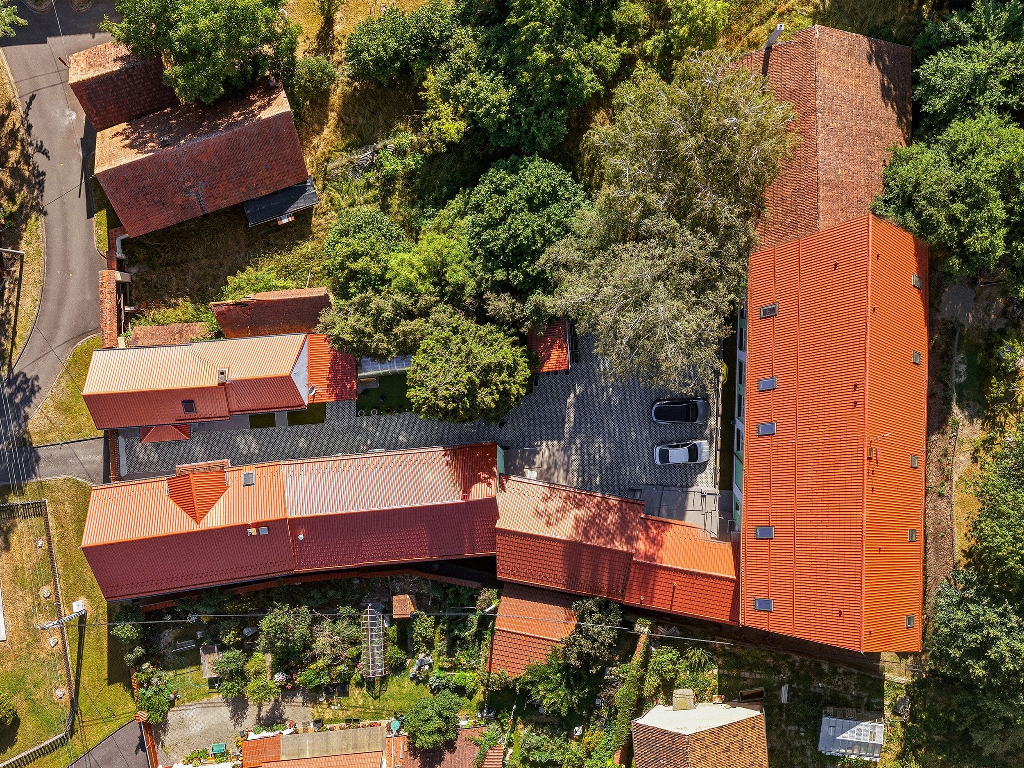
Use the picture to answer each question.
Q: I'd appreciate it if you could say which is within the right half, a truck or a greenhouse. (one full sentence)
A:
The feature located within the right half is a greenhouse.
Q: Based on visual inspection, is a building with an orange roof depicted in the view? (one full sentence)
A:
Yes, a building with an orange roof is visible in the scene.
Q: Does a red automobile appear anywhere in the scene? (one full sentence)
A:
No, no red automobile is visible in the view.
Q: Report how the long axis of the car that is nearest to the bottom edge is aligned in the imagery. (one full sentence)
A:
The car that is nearest to the bottom edge runs from side to side in the image.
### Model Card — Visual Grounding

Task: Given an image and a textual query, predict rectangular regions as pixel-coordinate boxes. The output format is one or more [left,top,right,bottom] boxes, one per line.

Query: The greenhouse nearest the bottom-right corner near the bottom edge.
[809,706,884,762]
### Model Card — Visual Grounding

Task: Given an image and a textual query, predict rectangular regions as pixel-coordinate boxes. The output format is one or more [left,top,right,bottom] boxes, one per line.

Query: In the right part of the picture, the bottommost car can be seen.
[652,437,711,467]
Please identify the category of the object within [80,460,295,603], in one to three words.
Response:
house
